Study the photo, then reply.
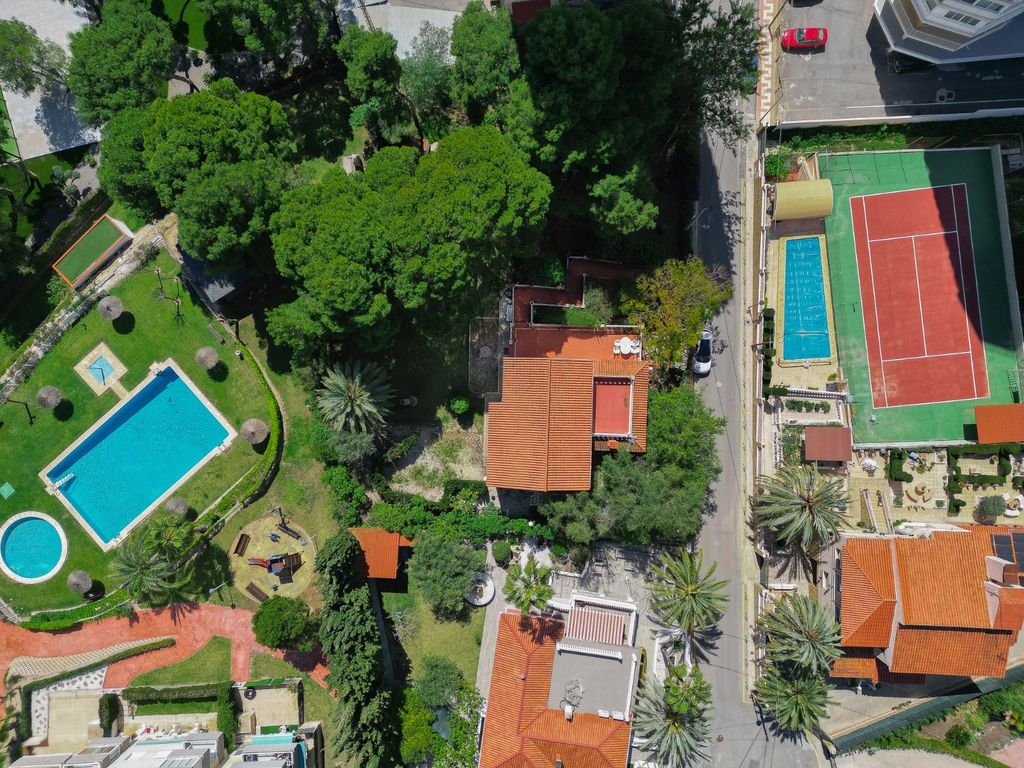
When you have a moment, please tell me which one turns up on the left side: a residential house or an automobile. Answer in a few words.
residential house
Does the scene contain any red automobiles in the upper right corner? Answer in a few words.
Yes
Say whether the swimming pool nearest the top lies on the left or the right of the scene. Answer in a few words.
right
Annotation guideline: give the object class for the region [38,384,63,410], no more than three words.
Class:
umbrella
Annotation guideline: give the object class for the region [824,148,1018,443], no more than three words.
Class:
tennis court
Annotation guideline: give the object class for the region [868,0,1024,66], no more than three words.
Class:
building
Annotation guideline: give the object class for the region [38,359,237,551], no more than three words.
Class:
swimming pool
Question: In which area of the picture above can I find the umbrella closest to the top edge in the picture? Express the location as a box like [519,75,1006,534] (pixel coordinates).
[99,296,125,322]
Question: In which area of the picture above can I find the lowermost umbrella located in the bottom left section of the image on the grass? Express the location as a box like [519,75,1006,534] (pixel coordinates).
[69,568,94,593]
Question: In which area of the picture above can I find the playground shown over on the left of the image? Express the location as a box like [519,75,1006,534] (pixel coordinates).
[229,517,316,604]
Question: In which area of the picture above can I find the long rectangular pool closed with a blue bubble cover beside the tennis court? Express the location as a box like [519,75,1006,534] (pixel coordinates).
[776,233,837,367]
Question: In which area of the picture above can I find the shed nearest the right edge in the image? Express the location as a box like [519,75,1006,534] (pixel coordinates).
[960,404,1024,444]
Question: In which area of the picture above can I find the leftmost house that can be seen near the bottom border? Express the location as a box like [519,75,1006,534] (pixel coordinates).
[18,727,98,768]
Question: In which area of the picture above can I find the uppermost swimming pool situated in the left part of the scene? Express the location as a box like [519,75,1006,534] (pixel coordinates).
[73,342,129,399]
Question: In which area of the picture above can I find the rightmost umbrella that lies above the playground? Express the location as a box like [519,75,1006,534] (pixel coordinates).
[243,418,269,444]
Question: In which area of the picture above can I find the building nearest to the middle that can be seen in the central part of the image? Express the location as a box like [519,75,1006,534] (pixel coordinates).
[486,357,650,492]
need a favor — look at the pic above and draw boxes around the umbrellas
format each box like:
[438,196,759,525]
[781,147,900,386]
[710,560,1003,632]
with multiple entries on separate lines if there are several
[69,568,94,593]
[243,418,269,444]
[165,494,190,518]
[195,345,221,370]
[99,296,125,322]
[38,384,63,410]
